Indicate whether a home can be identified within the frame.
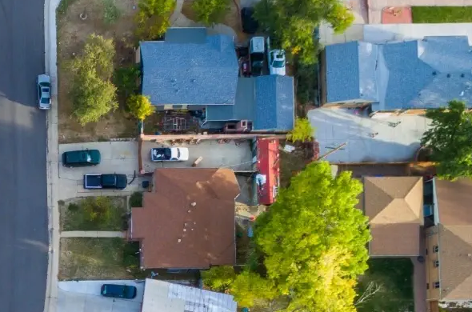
Yes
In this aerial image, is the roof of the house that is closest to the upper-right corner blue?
Yes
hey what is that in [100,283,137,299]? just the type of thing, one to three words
car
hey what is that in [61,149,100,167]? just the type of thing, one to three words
car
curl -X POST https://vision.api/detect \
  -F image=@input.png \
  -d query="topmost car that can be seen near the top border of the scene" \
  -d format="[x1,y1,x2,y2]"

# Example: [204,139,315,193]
[240,5,259,36]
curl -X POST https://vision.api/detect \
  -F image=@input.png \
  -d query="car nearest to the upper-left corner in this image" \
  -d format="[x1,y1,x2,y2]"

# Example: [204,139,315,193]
[36,74,53,110]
